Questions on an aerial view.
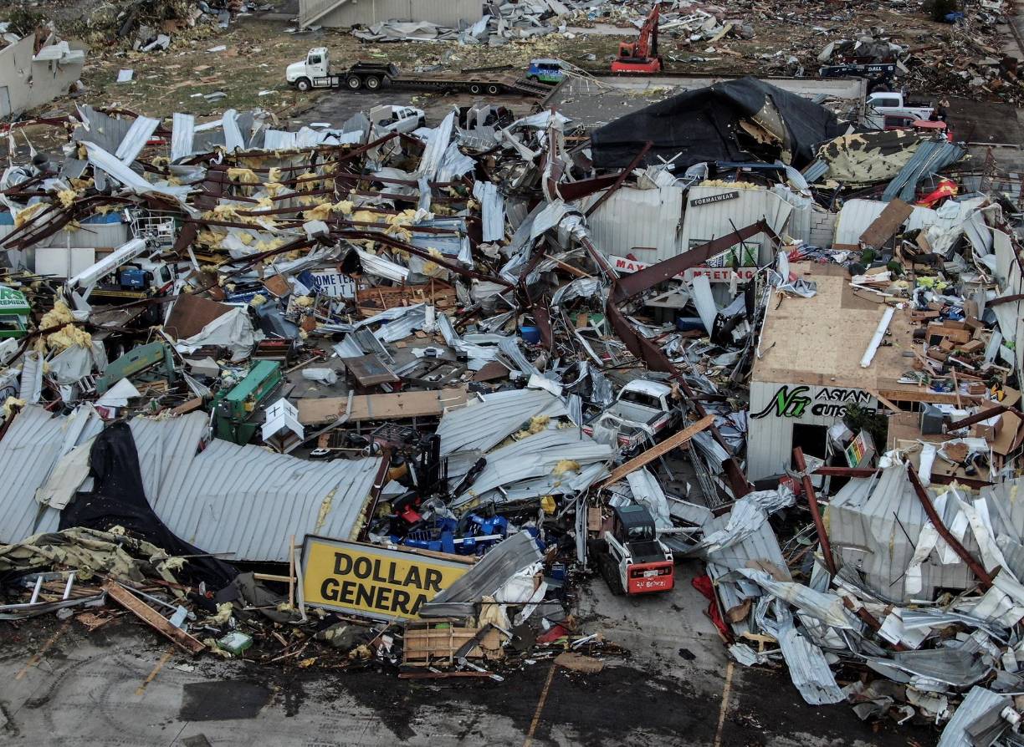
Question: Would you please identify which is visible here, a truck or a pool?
truck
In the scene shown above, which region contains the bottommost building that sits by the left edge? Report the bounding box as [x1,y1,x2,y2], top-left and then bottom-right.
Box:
[0,27,81,117]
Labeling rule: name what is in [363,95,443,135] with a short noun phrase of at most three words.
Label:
truck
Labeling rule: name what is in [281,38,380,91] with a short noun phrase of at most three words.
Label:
truck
